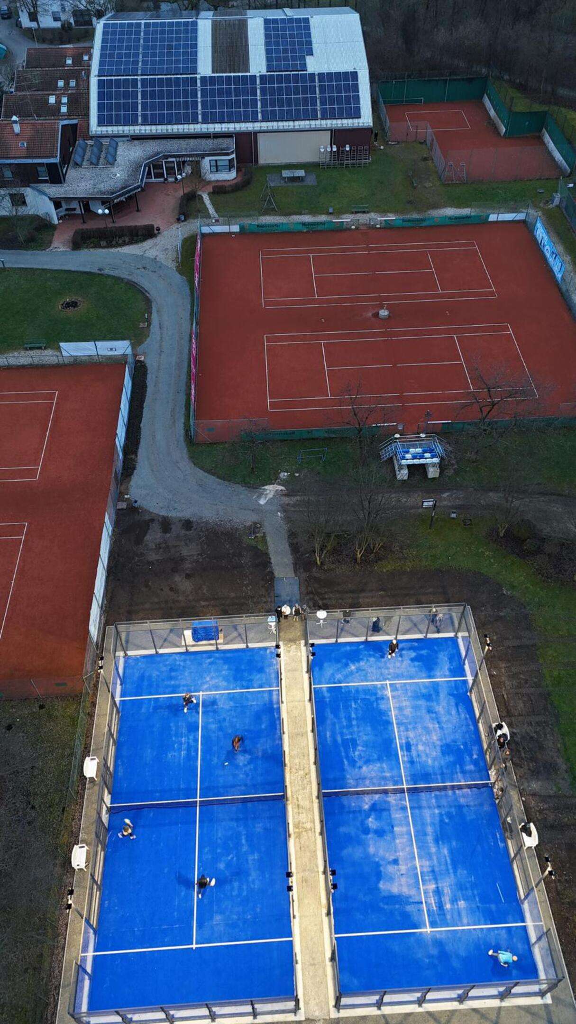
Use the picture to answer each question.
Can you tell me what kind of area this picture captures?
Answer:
sports ground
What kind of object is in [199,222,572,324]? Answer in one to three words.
tennis court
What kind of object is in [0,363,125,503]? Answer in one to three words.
tennis court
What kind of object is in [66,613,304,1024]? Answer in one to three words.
sports court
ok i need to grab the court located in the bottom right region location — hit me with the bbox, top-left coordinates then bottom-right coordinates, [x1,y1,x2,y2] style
[303,603,564,1012]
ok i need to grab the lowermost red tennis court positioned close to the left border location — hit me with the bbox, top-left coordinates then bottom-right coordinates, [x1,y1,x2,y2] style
[0,498,109,700]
